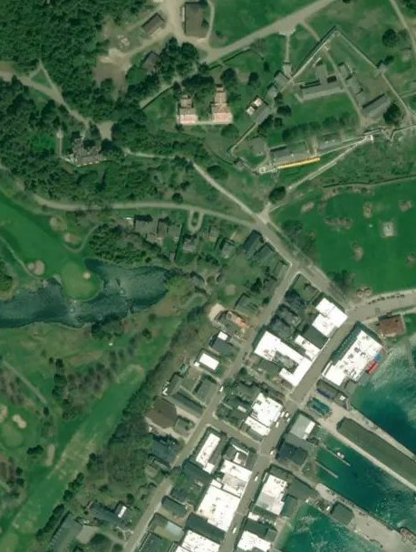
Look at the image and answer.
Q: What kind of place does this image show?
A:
residential area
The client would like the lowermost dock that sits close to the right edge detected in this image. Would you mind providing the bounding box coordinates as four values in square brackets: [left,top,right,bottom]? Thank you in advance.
[311,483,415,552]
